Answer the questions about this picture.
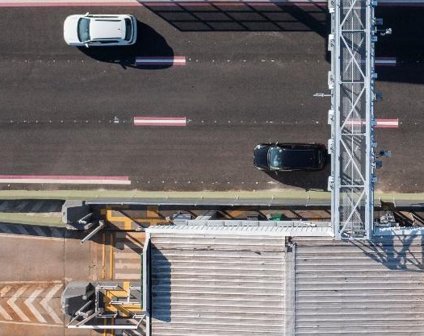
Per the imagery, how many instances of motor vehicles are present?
two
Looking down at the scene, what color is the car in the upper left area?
white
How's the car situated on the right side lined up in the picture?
from side to side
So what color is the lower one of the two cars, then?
black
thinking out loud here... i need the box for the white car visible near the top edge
[63,11,138,49]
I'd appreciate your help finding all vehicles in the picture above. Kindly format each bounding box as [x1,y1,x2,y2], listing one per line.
[253,139,326,176]
[63,11,138,49]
